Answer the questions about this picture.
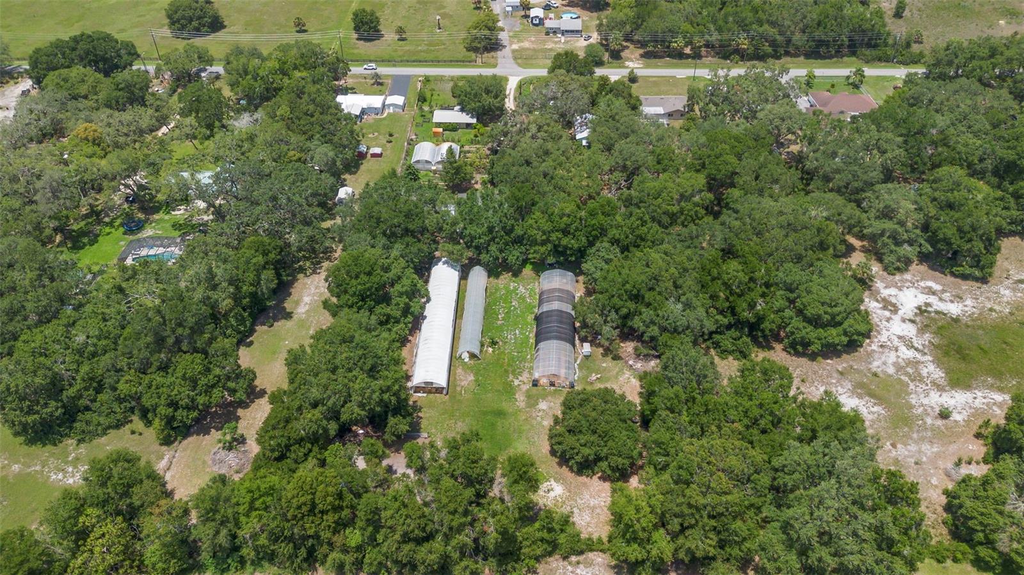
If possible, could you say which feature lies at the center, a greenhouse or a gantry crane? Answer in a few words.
greenhouse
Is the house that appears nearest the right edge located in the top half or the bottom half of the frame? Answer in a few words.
top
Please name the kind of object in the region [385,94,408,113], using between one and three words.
building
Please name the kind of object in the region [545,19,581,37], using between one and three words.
house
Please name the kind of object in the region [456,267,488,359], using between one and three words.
greenhouse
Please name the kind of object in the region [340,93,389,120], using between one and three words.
house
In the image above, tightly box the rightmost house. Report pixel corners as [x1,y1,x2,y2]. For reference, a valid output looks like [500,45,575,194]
[797,81,877,123]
